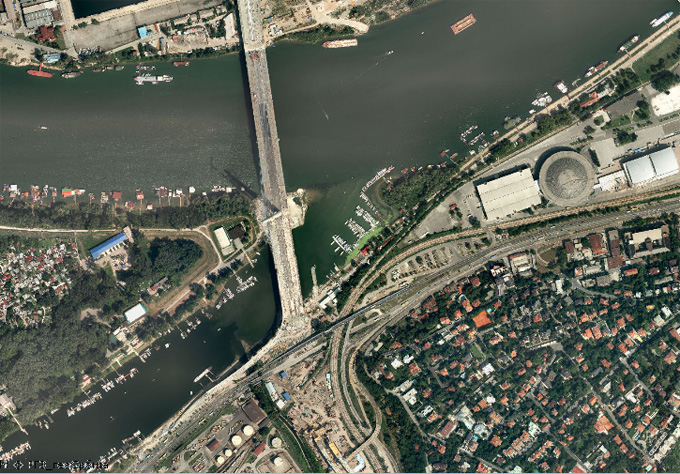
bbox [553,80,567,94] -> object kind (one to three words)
boat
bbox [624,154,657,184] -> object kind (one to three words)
building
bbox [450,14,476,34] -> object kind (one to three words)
ship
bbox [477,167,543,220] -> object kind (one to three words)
building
